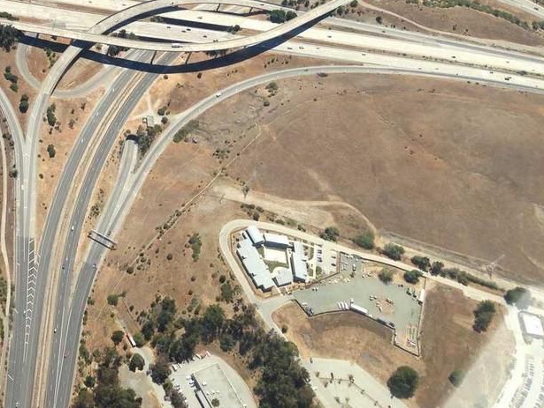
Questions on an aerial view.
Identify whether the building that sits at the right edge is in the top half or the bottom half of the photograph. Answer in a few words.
bottom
